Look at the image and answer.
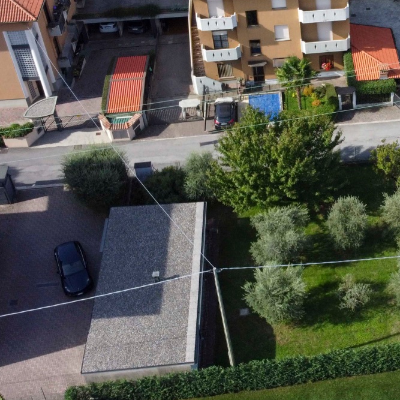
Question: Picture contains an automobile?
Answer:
Yes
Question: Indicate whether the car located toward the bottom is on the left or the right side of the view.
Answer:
left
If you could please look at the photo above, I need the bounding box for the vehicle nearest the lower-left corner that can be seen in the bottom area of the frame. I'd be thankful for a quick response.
[52,238,94,298]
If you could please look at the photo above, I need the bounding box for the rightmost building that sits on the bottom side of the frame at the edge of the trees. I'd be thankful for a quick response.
[80,197,211,394]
